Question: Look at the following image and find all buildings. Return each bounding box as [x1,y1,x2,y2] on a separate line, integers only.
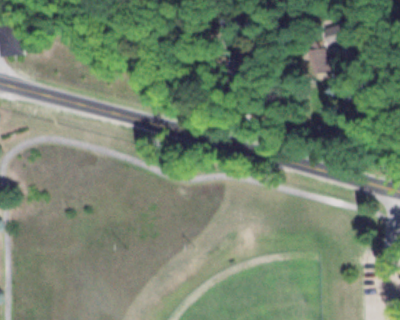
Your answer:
[0,26,24,58]
[308,50,333,74]
[324,24,341,36]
